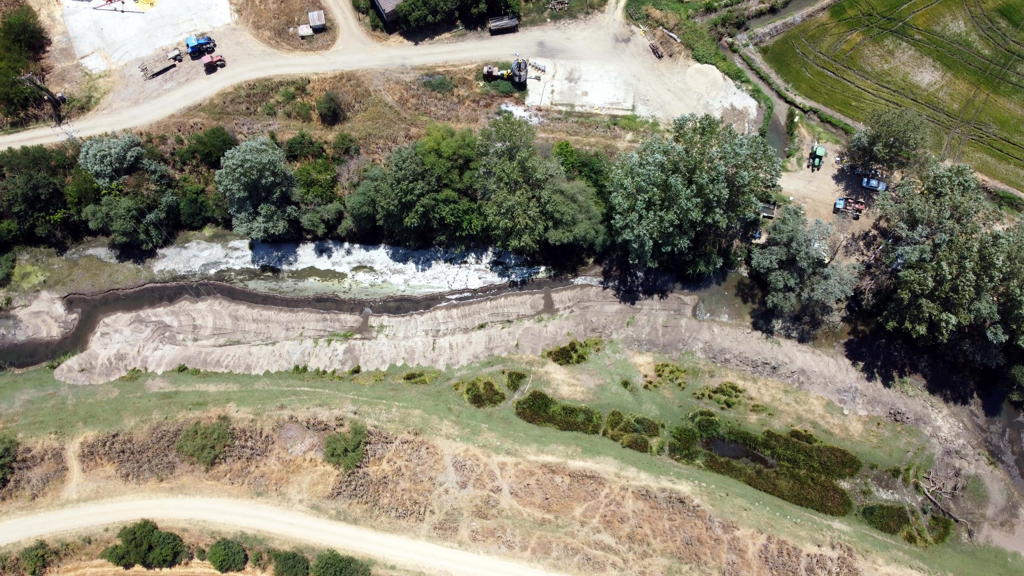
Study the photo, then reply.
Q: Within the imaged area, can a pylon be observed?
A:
Yes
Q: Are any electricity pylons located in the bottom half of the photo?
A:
No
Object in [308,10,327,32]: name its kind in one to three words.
shed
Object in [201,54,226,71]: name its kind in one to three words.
work vehicle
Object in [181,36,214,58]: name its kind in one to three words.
work vehicle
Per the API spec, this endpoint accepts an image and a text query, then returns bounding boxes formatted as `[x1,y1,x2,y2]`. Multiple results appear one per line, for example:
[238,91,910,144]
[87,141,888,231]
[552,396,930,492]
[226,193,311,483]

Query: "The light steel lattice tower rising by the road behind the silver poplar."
[58,122,86,148]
